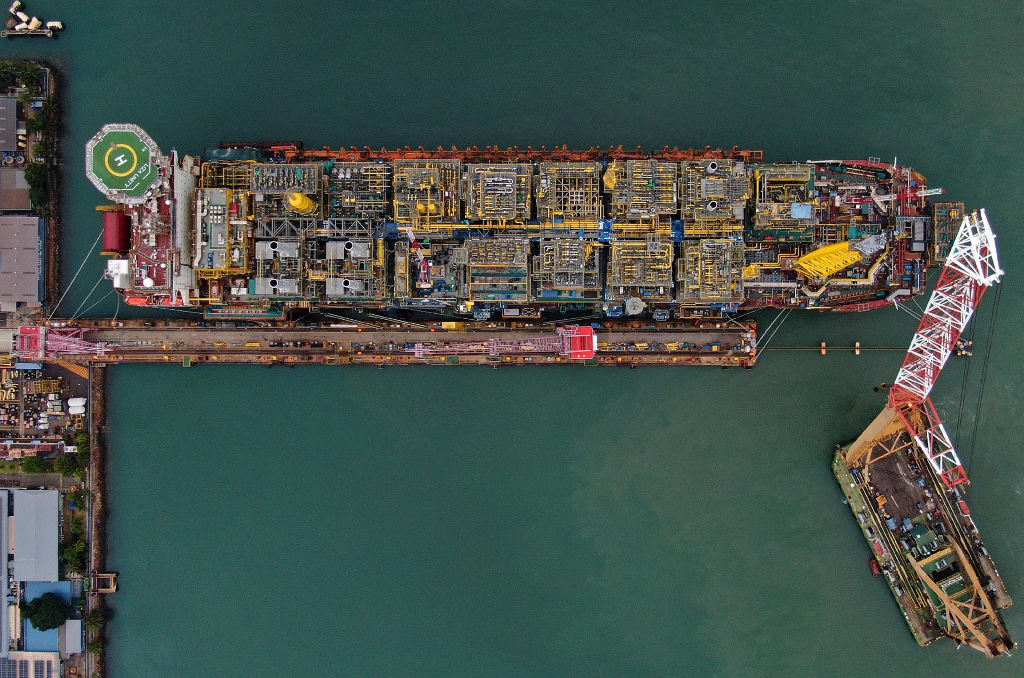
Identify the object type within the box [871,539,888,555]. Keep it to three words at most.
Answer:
boat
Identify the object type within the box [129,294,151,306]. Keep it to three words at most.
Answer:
boat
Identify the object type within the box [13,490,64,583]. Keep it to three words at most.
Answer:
building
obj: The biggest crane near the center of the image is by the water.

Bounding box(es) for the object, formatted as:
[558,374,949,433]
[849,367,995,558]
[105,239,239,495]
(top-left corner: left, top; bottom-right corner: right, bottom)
[402,323,599,358]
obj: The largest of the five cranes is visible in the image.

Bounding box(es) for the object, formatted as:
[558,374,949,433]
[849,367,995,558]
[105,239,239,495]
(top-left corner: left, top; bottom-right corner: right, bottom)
[844,210,1020,660]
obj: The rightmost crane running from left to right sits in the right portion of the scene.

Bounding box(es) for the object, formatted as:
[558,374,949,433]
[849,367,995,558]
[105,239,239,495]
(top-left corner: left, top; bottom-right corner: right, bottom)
[839,188,946,206]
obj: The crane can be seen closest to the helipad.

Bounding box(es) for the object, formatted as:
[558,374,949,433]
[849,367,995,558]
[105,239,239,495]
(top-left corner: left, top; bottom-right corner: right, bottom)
[16,323,111,359]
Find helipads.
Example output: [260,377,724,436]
[85,123,163,203]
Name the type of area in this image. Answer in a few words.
port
